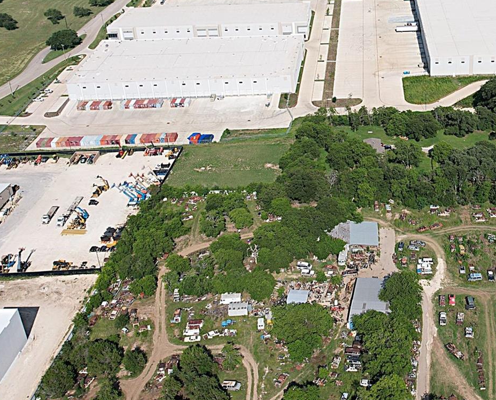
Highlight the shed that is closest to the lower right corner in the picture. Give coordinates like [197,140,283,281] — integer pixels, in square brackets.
[348,276,390,334]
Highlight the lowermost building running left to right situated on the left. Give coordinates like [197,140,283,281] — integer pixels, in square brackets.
[67,34,298,99]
